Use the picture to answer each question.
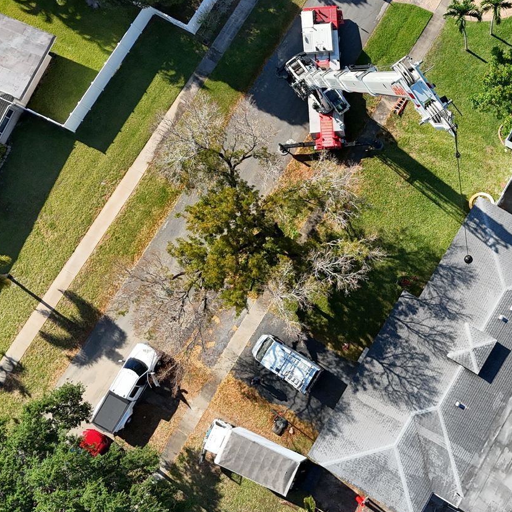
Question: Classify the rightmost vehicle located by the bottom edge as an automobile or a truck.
truck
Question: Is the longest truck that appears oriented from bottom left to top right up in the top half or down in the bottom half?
bottom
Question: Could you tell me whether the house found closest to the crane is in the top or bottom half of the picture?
bottom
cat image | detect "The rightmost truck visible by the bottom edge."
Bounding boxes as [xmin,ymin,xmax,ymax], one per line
[197,414,308,497]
